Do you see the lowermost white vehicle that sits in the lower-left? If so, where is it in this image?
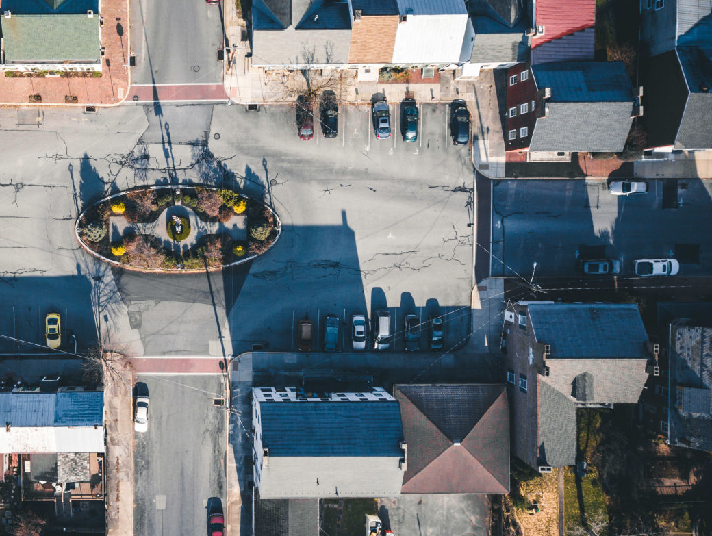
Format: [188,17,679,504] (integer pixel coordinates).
[131,394,151,431]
